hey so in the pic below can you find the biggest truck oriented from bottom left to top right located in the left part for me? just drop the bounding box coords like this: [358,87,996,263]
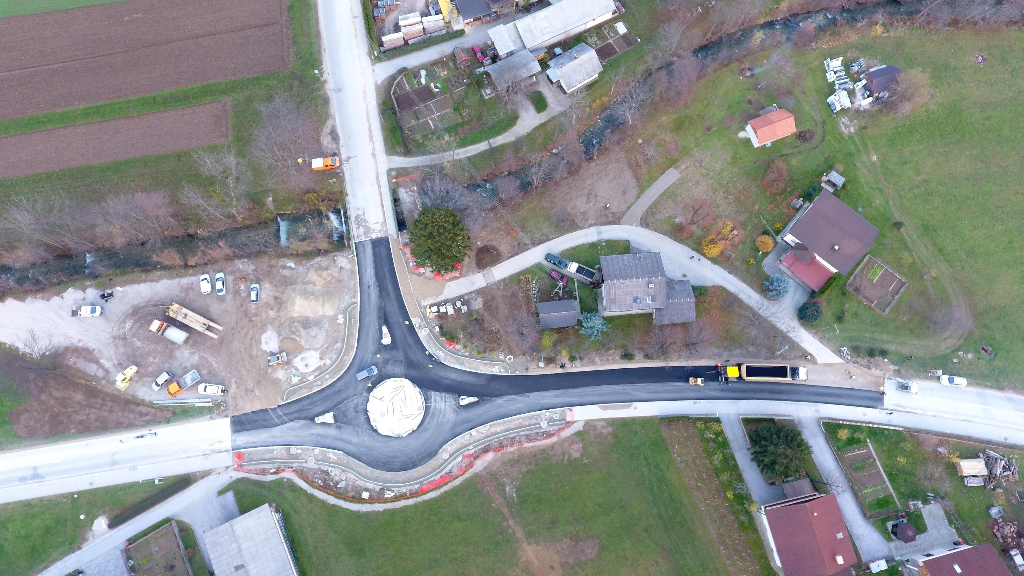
[165,368,202,399]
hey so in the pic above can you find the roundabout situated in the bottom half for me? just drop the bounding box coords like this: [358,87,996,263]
[230,236,884,472]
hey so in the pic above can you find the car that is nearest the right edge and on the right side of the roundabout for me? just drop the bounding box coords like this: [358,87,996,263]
[939,373,967,386]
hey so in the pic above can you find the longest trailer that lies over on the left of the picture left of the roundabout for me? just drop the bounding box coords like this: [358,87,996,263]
[163,302,224,341]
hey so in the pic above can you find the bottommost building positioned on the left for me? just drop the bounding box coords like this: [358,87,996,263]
[202,502,297,576]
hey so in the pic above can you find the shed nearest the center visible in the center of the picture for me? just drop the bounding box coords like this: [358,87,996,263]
[537,299,577,330]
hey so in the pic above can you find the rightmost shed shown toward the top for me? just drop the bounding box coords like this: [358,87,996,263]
[860,64,902,95]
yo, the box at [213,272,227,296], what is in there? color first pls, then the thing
white car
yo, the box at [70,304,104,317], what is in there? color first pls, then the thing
white vehicle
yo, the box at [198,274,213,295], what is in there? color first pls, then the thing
white car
